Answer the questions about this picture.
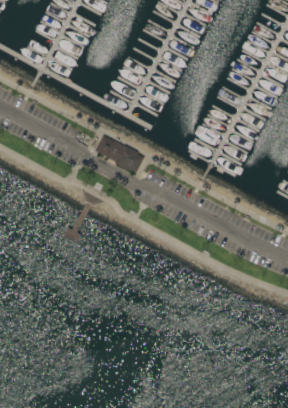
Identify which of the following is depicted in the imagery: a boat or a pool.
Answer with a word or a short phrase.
boat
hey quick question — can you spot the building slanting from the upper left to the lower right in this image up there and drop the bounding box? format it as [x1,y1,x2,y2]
[96,134,144,175]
